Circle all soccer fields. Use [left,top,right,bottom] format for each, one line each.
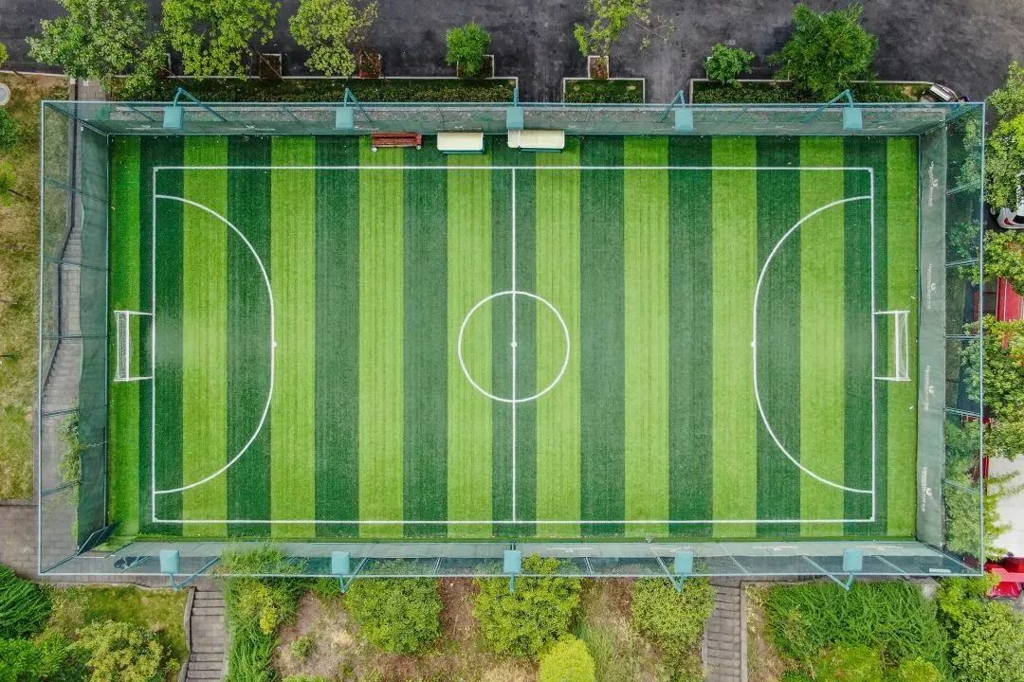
[108,135,919,547]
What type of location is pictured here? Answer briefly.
sports ground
